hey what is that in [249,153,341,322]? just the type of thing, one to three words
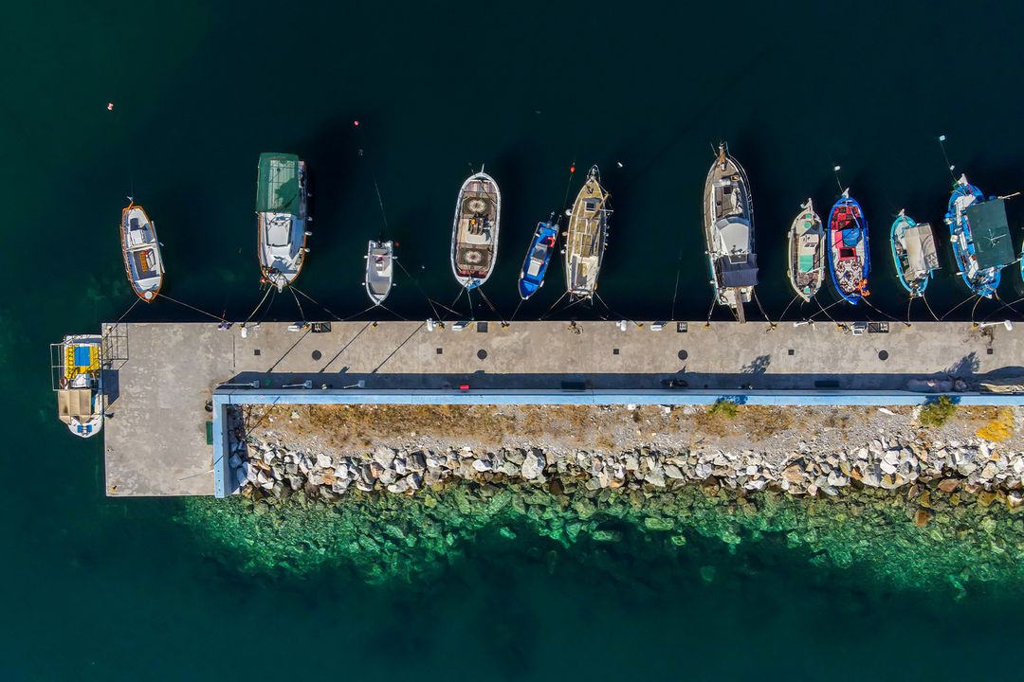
boat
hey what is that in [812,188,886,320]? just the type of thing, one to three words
boat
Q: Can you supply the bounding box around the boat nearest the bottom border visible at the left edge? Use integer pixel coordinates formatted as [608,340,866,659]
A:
[50,329,113,438]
